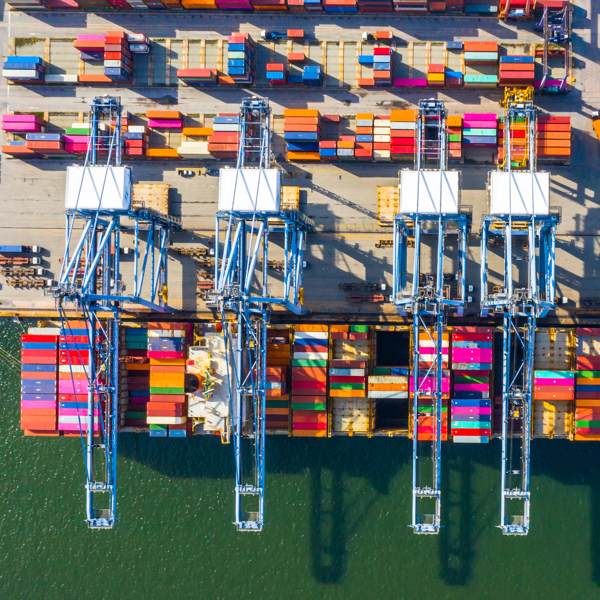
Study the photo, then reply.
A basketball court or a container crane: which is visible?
container crane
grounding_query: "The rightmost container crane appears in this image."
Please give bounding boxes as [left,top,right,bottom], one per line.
[533,6,570,97]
